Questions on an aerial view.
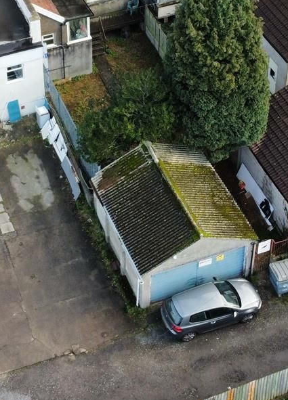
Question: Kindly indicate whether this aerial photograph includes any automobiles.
Yes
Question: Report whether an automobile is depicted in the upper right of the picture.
No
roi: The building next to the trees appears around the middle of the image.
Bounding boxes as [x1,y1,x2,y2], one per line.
[85,142,260,309]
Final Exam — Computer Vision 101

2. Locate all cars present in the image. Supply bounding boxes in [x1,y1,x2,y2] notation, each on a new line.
[155,272,264,341]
